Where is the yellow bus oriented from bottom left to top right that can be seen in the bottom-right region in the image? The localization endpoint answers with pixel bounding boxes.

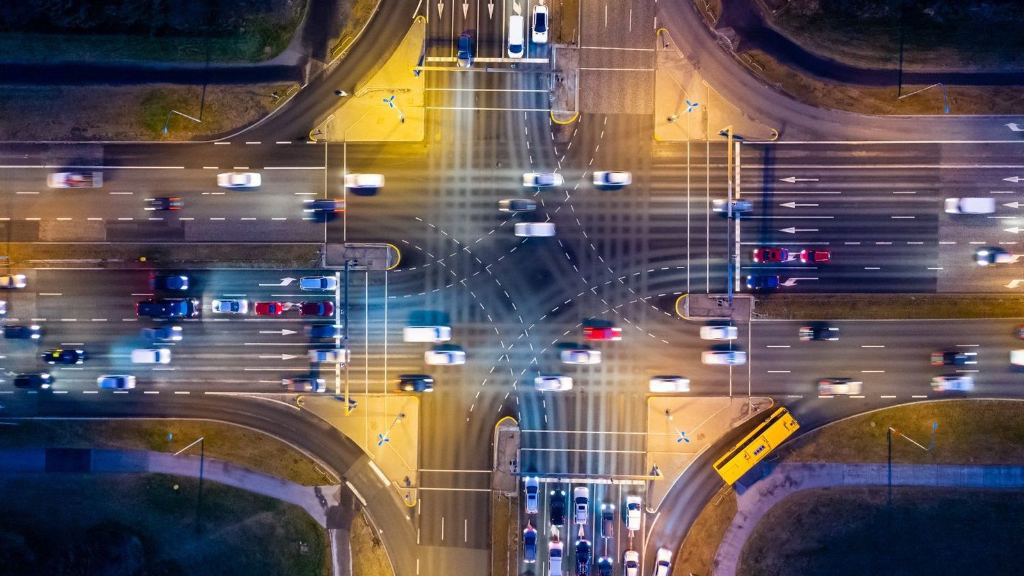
[713,406,801,484]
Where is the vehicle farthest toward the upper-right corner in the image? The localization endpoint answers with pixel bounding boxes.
[944,196,996,214]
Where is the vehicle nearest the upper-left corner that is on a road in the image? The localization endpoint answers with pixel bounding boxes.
[50,170,102,189]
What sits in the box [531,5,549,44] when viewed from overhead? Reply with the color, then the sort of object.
white car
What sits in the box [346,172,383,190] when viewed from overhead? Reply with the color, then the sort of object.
white car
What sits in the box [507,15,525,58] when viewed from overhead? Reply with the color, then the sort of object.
white vehicle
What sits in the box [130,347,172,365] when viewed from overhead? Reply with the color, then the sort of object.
white vehicle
